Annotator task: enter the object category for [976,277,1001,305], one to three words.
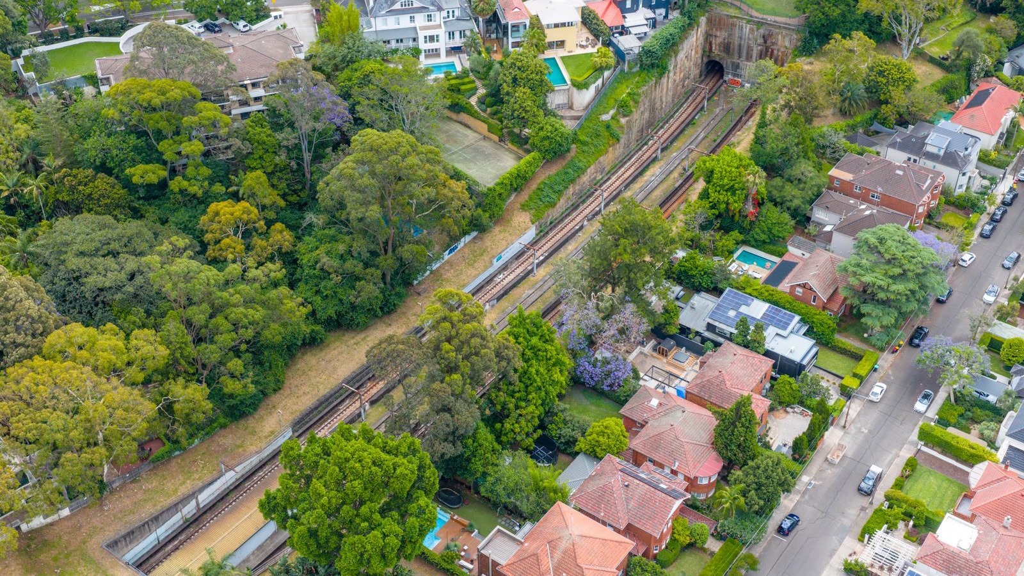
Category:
car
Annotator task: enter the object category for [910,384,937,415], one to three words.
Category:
car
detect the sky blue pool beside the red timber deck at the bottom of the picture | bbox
[420,509,452,552]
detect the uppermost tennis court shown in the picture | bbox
[411,122,522,188]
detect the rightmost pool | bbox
[927,108,956,122]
